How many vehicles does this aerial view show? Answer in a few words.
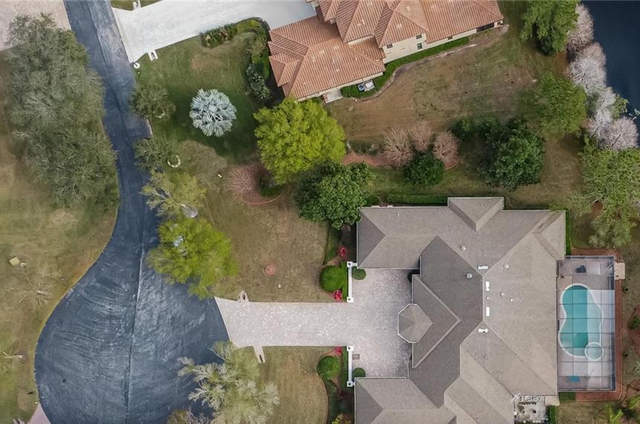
0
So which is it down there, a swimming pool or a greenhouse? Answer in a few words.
swimming pool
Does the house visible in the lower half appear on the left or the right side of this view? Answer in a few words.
right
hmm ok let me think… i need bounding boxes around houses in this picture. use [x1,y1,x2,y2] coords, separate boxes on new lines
[354,196,566,424]
[268,0,503,102]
